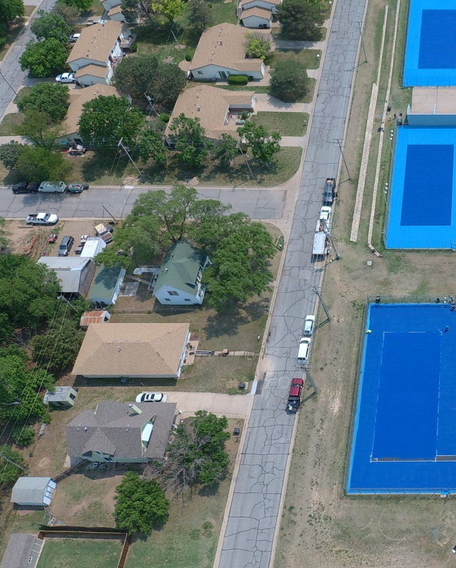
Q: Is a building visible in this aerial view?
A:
Yes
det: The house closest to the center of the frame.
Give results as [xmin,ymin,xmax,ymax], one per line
[153,237,214,304]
